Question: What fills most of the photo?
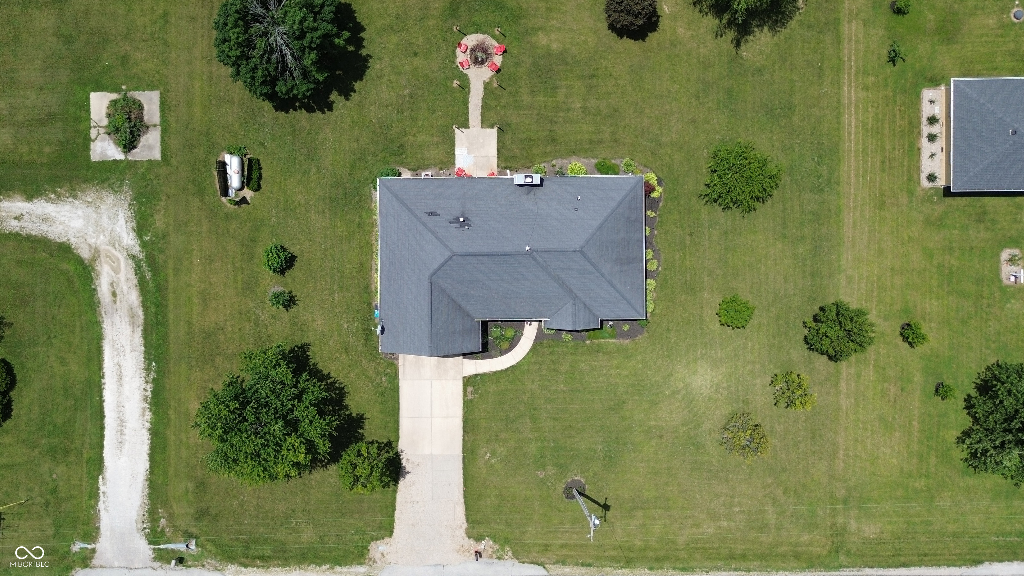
grass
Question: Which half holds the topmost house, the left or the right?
right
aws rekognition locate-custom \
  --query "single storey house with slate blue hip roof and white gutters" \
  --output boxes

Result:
[379,170,645,357]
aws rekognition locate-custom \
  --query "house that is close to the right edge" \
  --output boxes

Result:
[938,77,1024,191]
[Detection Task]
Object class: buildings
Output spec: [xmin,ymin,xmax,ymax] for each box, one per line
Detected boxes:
[379,170,645,357]
[938,77,1024,191]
